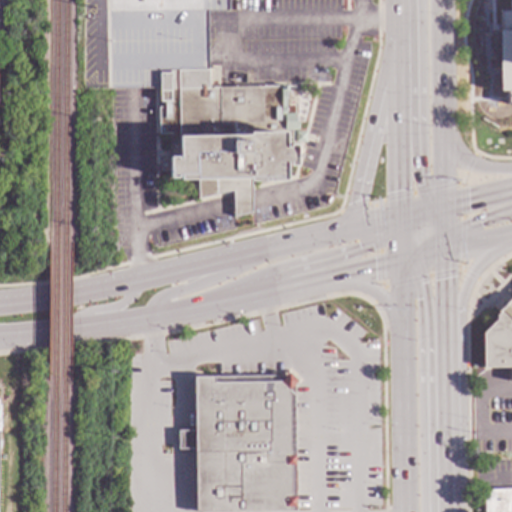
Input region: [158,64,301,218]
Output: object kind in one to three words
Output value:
building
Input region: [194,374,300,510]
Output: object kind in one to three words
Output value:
building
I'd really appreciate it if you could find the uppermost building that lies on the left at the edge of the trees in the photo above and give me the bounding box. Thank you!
[108,0,229,88]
